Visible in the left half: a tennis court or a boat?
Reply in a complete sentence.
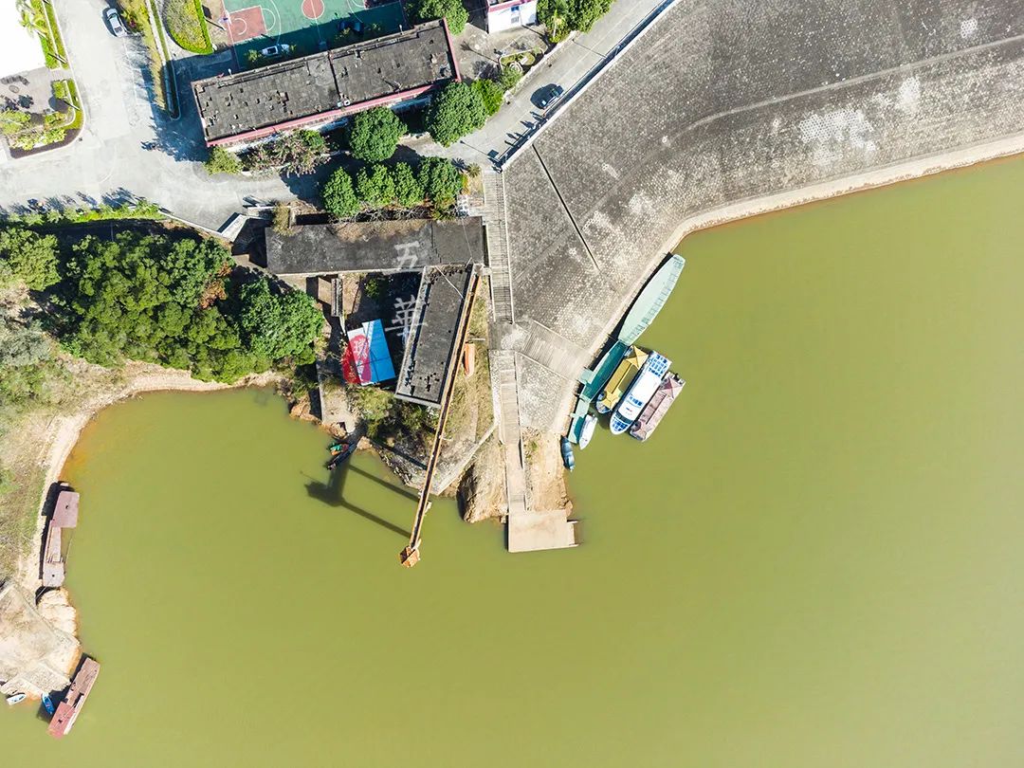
The feature located in the left half is a boat.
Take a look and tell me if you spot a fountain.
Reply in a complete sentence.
No, the frame has no fountain in it.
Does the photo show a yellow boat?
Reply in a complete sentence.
Yes, I can see a yellow boat in this picture.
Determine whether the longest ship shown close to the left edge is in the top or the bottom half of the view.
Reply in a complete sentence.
You can find the longest ship shown close to the left edge in the bottom half.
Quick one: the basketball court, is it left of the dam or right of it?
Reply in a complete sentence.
To the left of the dam is where the basketball court appears.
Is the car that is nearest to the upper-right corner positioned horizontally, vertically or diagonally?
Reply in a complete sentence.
What the image shows is the car that is nearest to the upper-right corner lying diagonally.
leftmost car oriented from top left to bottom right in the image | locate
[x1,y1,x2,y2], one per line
[107,8,129,37]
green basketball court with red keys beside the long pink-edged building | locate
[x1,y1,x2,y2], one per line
[218,0,408,69]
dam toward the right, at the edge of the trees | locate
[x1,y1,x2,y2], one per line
[495,0,1024,423]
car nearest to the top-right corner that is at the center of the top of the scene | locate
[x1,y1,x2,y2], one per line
[538,83,565,109]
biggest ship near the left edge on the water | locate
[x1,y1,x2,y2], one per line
[49,655,103,736]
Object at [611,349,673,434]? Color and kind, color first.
white boat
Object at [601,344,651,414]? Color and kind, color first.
yellow boat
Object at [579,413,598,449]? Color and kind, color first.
white boat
